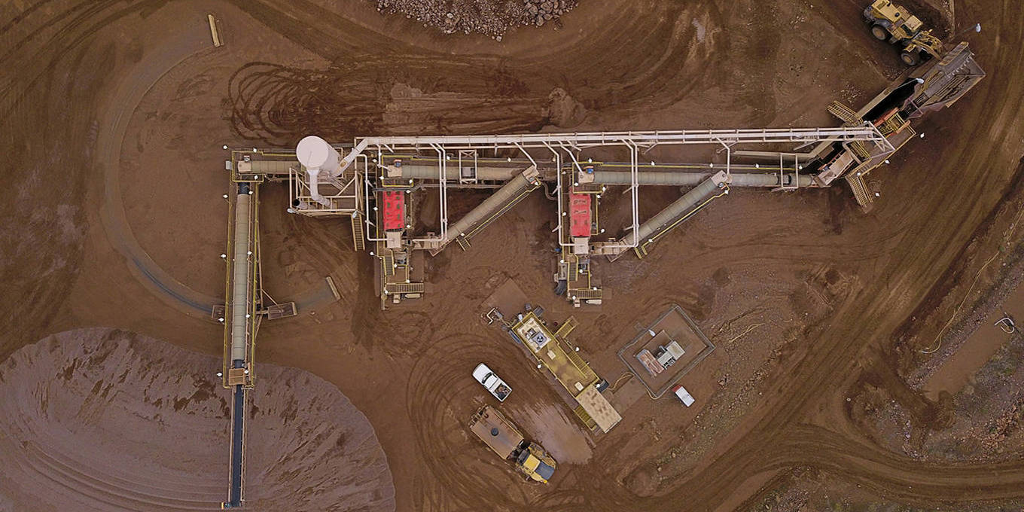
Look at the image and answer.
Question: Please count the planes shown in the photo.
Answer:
none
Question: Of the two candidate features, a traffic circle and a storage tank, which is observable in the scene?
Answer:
storage tank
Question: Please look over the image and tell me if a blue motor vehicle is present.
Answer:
No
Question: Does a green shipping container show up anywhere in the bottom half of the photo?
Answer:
No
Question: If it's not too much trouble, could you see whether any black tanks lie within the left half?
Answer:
No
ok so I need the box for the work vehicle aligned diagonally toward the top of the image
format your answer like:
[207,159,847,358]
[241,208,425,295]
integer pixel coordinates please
[862,0,974,75]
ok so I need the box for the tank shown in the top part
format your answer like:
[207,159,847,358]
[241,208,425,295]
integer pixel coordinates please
[288,136,367,250]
